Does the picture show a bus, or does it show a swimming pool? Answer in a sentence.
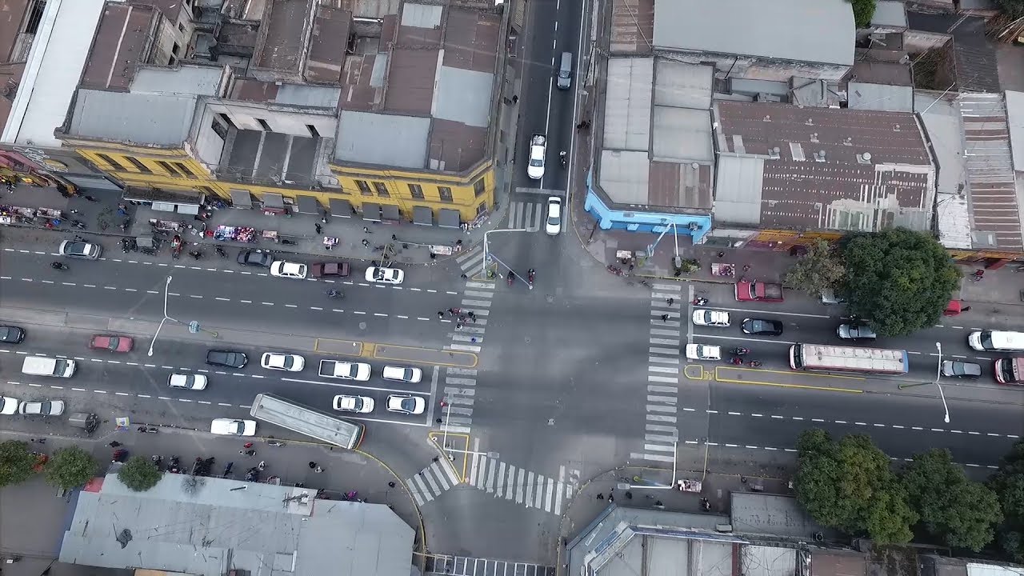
I can see a bus in this picture.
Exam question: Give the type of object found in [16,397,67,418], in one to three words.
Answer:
car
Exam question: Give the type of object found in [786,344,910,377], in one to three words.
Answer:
bus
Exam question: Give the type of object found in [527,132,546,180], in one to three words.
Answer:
vehicle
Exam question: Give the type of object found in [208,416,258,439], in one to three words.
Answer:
truck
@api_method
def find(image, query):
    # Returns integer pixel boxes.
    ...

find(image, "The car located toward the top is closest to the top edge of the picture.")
[555,50,574,93]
